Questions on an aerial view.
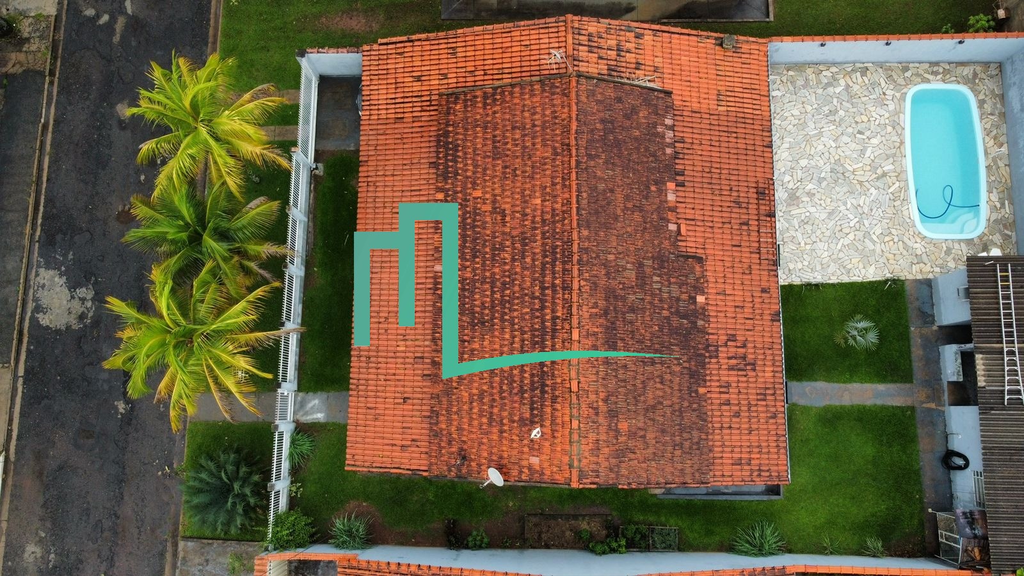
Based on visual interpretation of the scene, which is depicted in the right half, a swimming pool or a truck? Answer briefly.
swimming pool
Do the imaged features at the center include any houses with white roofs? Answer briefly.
No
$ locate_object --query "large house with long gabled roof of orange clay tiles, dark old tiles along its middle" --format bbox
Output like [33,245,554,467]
[347,9,793,493]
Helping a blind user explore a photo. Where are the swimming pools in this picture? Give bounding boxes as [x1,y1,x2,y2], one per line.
[906,86,987,237]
